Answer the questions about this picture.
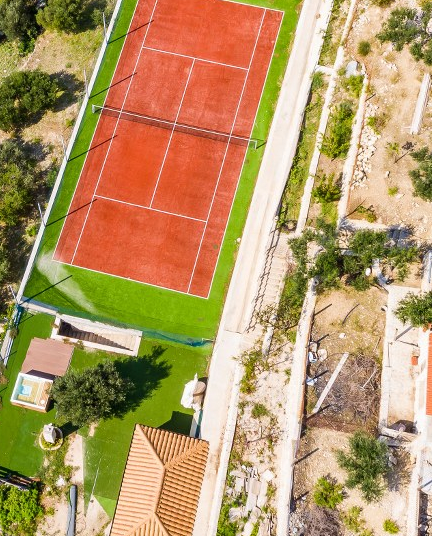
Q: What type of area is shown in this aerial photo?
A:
sports ground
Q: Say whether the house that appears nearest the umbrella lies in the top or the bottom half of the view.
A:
bottom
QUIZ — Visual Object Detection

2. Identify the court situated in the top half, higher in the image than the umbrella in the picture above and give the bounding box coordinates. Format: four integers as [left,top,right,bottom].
[26,0,300,347]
